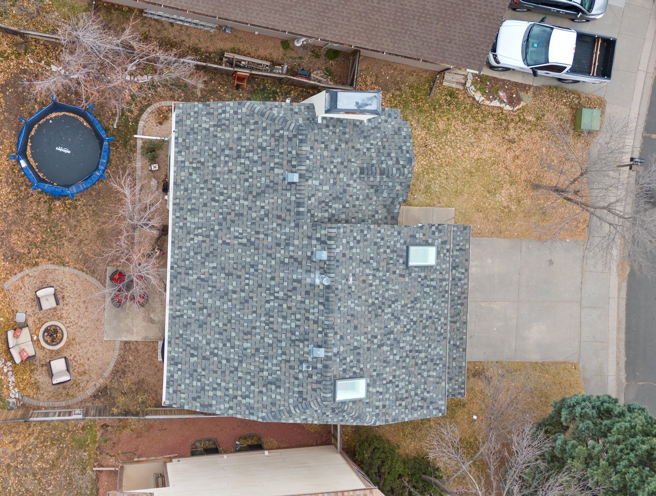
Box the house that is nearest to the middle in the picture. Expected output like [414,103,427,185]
[159,89,473,431]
